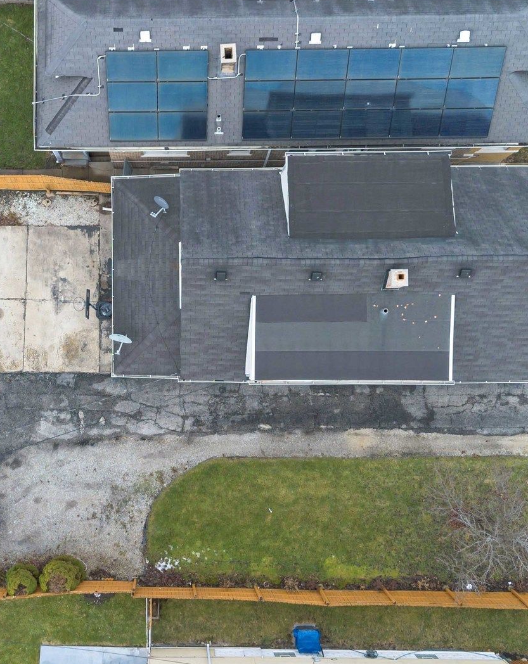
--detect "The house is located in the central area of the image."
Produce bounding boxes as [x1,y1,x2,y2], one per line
[105,152,528,386]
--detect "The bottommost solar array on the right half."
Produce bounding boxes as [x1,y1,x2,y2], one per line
[239,39,505,140]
